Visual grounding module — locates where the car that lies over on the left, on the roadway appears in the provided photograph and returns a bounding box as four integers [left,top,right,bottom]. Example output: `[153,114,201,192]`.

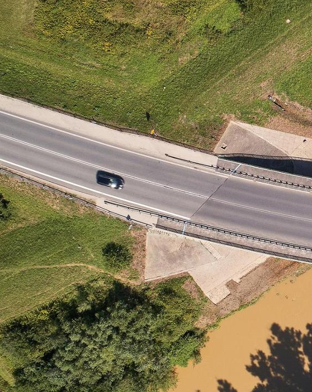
[96,172,125,187]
